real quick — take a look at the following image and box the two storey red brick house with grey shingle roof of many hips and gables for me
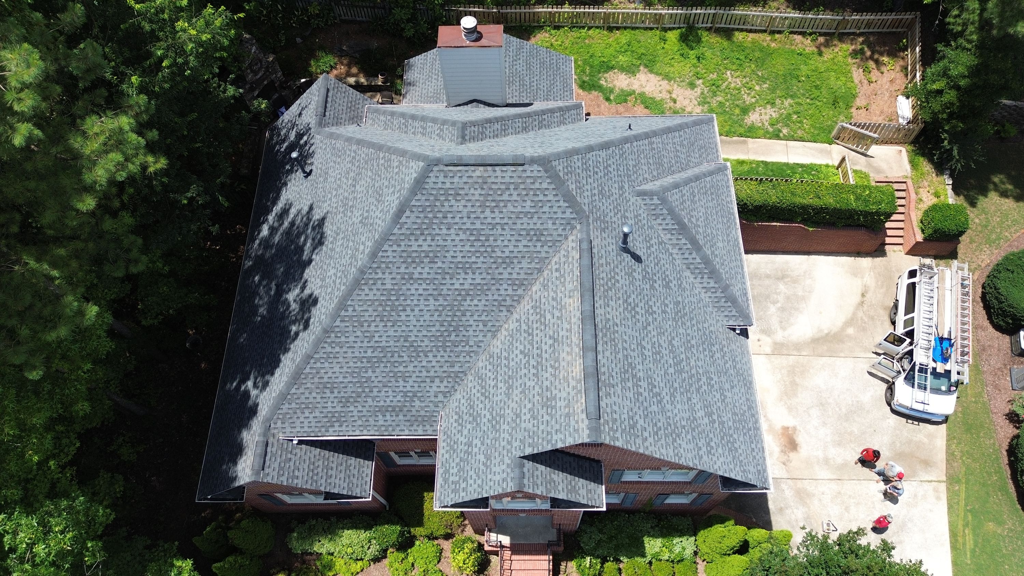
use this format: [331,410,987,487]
[192,18,777,576]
